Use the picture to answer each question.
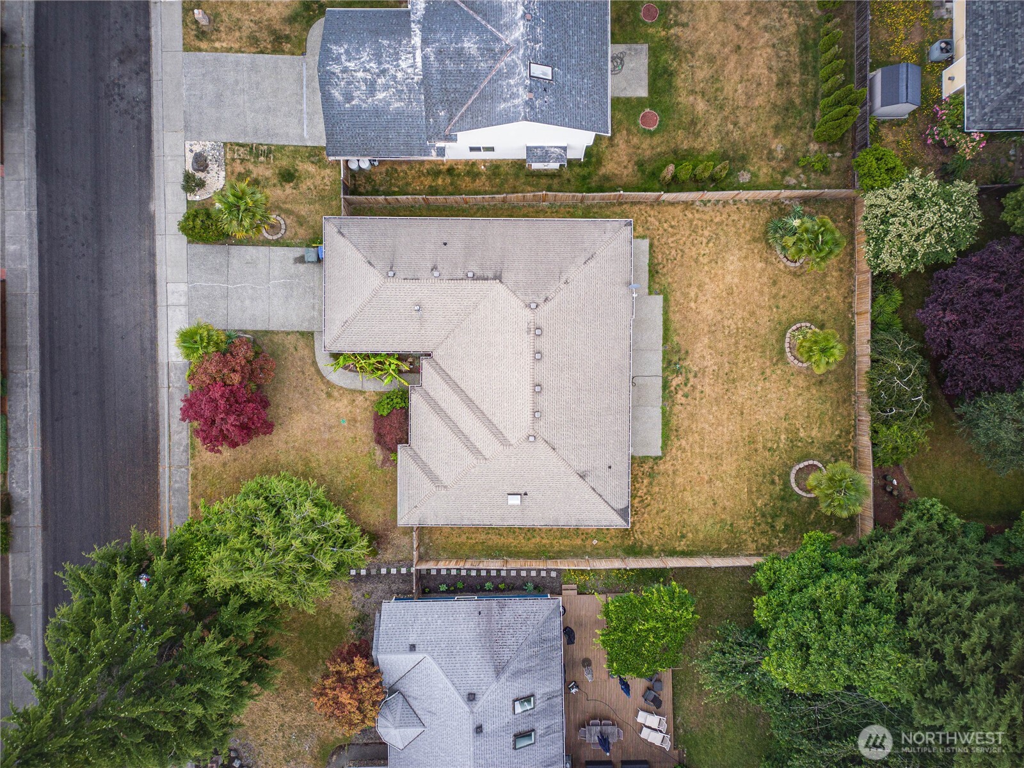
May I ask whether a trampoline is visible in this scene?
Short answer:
No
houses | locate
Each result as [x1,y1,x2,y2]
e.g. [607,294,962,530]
[942,0,1024,133]
[373,595,564,768]
[324,217,634,528]
[317,0,610,168]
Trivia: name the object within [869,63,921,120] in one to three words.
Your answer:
shed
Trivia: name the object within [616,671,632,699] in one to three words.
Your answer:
umbrella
